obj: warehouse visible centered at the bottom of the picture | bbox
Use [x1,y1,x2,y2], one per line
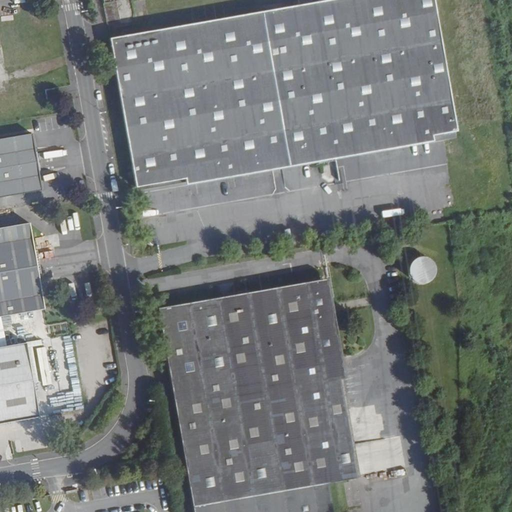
[160,280,360,512]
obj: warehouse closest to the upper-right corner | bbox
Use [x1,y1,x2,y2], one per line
[112,0,459,192]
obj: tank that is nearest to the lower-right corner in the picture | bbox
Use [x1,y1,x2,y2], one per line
[403,256,438,285]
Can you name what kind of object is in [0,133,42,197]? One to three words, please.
building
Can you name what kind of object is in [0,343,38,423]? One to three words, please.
building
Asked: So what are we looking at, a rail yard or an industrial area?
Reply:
industrial area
